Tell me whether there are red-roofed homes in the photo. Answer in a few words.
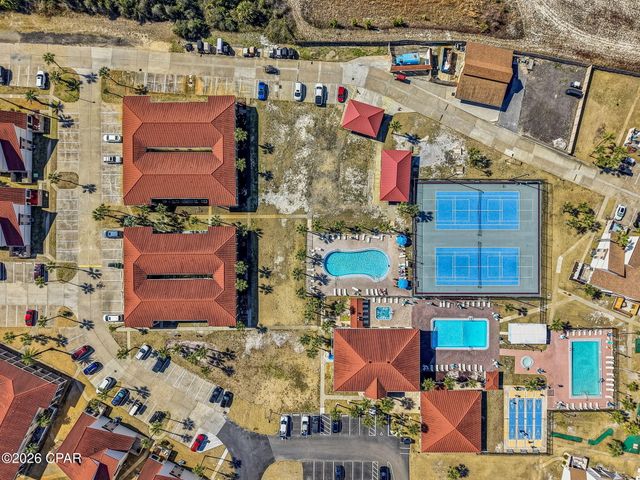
Yes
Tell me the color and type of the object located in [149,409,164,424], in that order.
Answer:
black car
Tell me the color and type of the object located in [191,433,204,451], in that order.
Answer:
red vehicle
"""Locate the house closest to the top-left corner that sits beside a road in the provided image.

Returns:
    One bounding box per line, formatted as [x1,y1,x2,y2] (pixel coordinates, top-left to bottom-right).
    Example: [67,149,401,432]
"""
[0,107,48,184]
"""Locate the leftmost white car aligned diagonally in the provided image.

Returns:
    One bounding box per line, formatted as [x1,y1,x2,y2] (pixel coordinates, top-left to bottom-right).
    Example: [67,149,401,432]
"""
[95,376,112,391]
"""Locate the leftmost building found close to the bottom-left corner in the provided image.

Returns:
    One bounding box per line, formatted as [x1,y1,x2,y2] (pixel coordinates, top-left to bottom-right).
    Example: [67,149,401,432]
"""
[0,343,74,480]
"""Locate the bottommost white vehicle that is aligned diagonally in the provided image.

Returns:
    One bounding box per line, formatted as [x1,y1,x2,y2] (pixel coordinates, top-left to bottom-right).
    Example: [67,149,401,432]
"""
[128,400,142,417]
